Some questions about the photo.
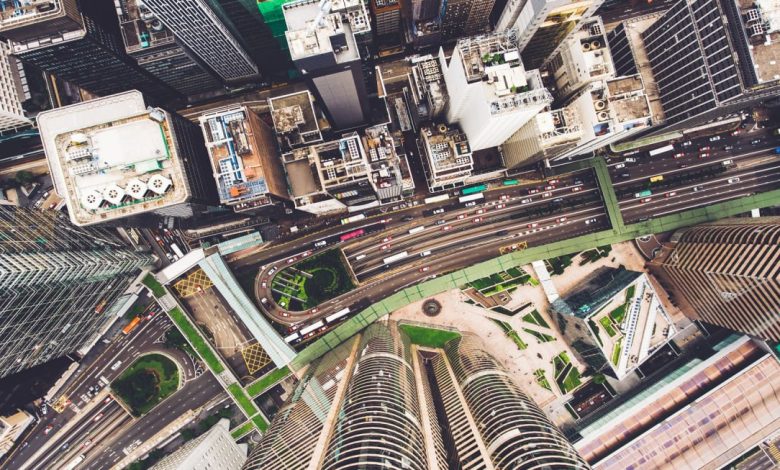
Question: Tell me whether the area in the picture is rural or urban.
urban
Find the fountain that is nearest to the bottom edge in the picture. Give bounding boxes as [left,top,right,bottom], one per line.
[421,297,442,318]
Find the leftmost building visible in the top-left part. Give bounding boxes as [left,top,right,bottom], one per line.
[0,78,55,159]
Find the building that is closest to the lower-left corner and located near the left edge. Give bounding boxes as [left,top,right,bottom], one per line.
[0,397,42,453]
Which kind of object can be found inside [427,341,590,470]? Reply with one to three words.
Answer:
building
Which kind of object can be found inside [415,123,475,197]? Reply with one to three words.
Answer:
building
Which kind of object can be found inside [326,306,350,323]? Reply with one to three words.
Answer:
vehicle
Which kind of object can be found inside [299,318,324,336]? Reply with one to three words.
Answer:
vehicle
